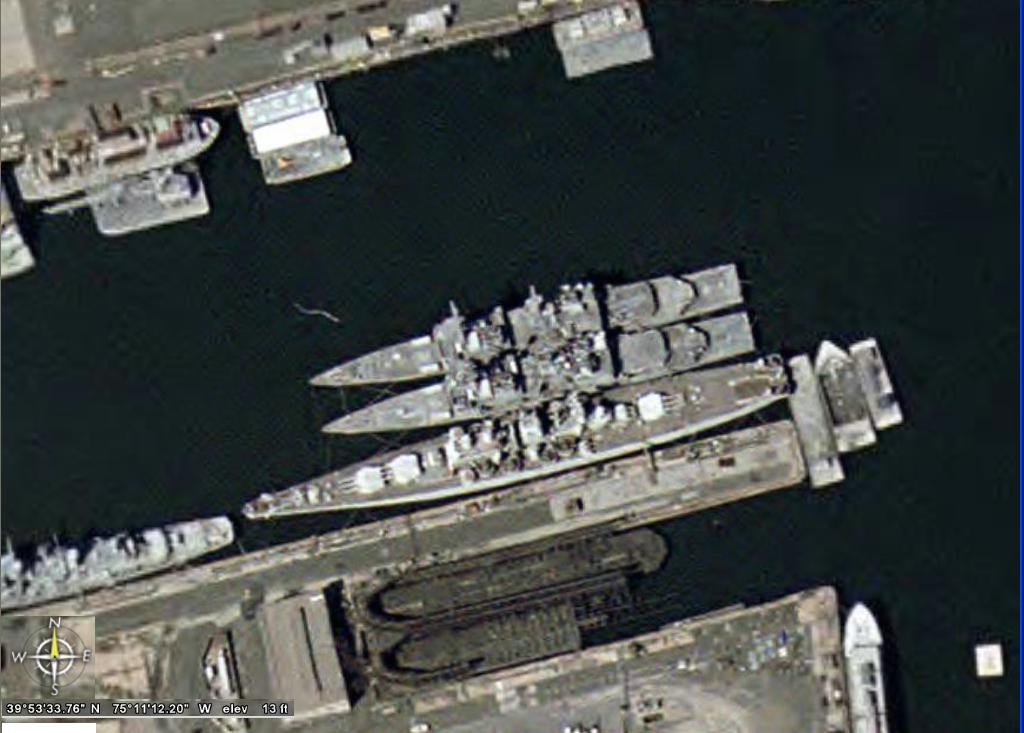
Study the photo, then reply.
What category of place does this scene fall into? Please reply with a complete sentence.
This looks like a port.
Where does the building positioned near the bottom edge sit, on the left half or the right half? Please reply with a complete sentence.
The building positioned near the bottom edge sits on the left side.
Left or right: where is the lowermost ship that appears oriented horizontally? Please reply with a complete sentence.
It is on the left.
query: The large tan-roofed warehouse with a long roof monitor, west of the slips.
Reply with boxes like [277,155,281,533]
[263,591,350,725]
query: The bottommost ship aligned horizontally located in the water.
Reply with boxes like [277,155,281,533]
[0,516,234,612]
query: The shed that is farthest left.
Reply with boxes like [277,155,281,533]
[54,15,74,37]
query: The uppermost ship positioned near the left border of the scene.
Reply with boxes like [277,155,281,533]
[15,104,219,201]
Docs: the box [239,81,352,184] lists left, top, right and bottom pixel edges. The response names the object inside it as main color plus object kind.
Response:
white ship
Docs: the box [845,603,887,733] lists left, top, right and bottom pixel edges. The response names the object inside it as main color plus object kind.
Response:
white ship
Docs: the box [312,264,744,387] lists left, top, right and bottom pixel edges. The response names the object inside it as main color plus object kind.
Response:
gray vessel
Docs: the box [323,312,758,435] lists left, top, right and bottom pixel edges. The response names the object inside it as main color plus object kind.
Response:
gray vessel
